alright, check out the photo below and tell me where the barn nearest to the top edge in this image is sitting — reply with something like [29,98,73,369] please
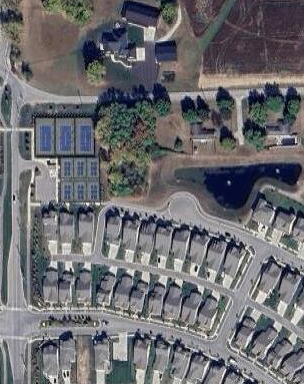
[120,0,161,29]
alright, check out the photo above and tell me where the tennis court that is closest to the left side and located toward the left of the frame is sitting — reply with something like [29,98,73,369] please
[35,118,54,155]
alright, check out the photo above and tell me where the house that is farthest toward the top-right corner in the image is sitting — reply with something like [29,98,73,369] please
[264,122,294,136]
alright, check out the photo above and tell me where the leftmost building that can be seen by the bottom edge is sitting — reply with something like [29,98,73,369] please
[42,341,58,373]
